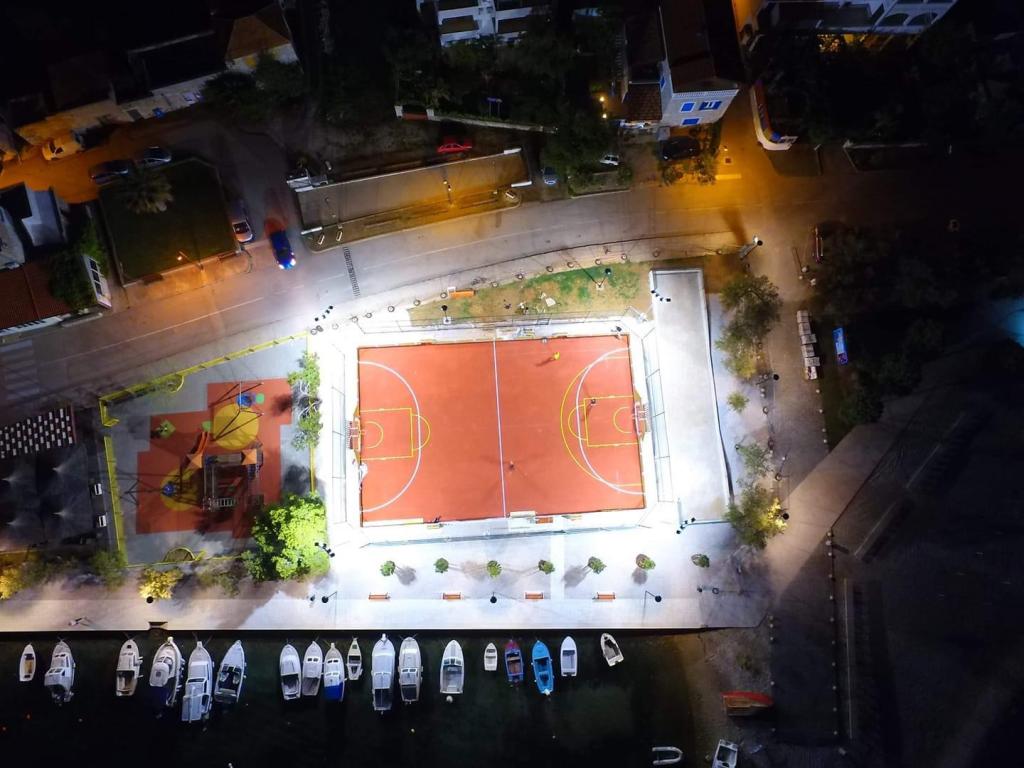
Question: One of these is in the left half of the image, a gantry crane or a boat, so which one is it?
boat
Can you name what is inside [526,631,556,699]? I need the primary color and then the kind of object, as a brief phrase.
blue boat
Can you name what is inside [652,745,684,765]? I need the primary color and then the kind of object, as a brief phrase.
gray boat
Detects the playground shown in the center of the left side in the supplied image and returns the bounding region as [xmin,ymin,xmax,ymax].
[99,335,318,564]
